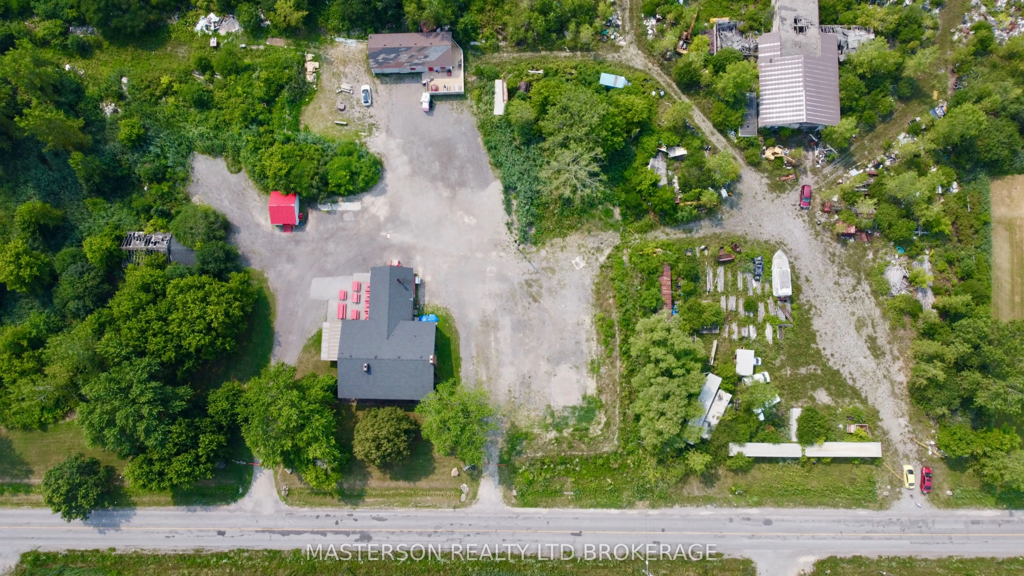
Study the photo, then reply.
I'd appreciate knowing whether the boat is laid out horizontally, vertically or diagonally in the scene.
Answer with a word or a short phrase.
vertically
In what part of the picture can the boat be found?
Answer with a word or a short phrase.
right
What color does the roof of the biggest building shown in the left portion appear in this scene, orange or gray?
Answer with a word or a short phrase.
gray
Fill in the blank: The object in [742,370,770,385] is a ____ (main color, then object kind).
white car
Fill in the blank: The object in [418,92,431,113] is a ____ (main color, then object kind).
white vehicle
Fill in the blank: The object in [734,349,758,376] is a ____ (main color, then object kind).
white truck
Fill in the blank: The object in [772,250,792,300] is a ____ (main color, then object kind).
white boat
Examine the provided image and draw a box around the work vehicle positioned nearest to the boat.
[753,255,766,286]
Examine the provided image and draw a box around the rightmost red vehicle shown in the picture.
[918,467,931,493]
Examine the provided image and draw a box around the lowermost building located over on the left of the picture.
[321,266,436,400]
